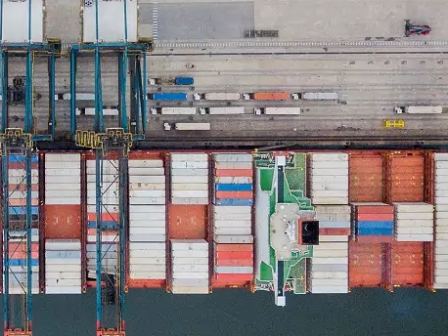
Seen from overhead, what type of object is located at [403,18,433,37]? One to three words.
work vehicle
